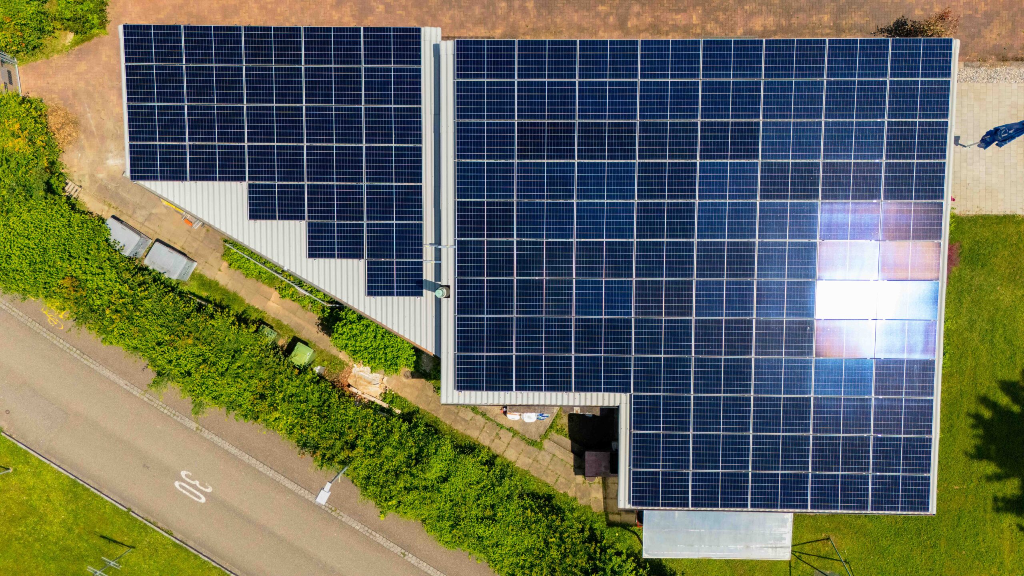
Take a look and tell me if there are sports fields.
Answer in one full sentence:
No, the scene contains no sports field.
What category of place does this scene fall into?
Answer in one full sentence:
It's a solar farm.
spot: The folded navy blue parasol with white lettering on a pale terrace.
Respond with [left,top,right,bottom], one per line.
[962,115,1024,149]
